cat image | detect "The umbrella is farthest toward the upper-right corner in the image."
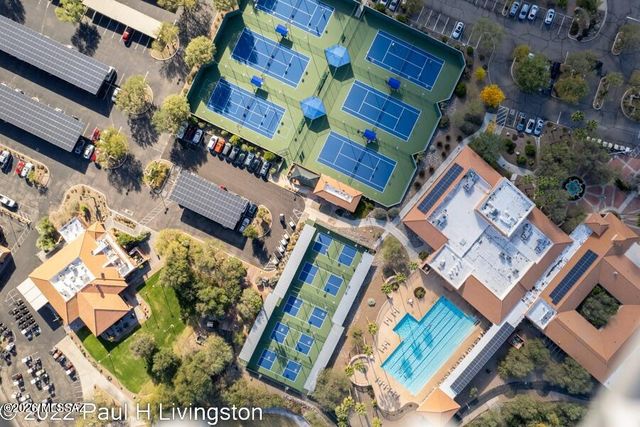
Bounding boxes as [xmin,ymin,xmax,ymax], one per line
[325,45,351,67]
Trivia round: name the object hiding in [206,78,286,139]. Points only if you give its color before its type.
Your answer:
blue tennis court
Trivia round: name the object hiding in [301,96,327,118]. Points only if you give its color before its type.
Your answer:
blue umbrella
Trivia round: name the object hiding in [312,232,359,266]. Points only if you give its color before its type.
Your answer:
blue sports court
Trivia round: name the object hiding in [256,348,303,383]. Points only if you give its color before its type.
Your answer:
blue sports court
